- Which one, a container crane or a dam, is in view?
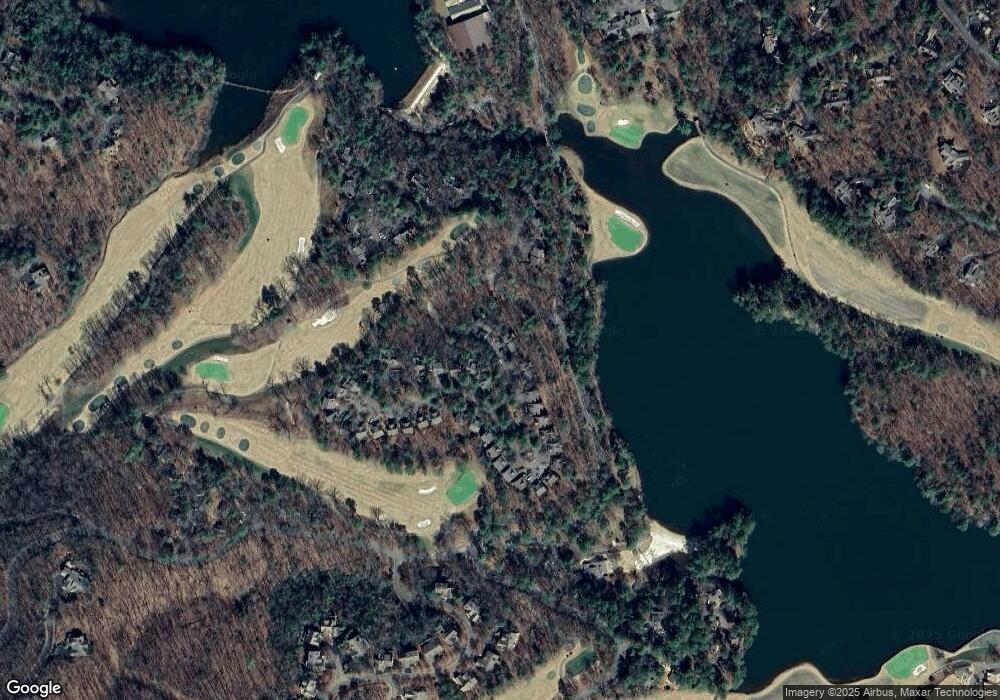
dam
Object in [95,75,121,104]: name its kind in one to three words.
house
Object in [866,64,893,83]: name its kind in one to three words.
house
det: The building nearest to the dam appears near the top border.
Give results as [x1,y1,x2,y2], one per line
[447,12,496,55]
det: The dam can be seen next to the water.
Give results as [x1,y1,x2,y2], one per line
[400,59,449,113]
